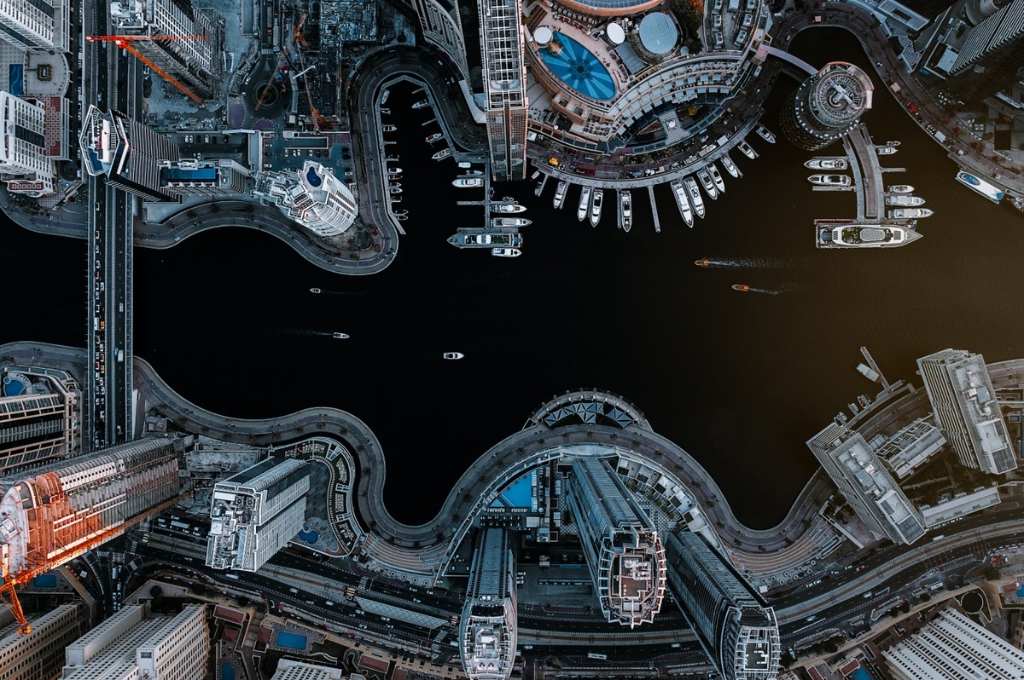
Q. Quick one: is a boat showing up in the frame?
Yes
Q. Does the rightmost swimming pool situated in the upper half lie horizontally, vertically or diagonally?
diagonally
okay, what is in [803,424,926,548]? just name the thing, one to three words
building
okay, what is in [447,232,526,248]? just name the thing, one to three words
boat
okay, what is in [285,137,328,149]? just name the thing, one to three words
building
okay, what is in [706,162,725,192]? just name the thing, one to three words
boat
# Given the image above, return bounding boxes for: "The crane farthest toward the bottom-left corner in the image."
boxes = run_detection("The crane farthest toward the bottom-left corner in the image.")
[0,490,194,638]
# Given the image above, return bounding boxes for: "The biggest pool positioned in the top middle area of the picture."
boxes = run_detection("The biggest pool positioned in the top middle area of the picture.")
[538,31,615,100]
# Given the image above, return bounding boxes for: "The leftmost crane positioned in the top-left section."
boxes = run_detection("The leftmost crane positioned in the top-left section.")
[82,34,208,105]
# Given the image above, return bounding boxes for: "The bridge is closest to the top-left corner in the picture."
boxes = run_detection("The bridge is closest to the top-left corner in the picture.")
[87,0,135,451]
